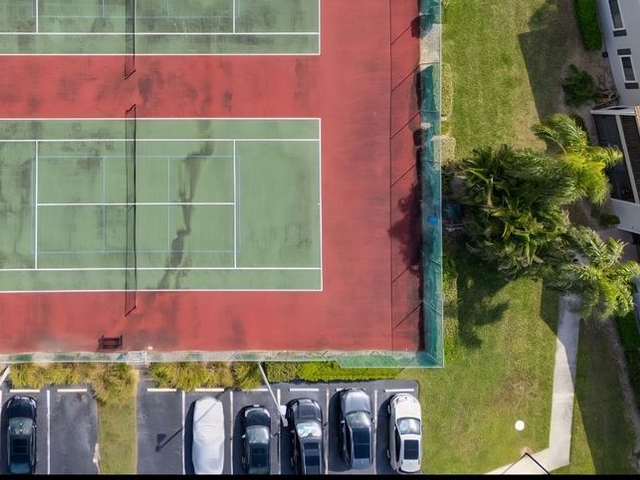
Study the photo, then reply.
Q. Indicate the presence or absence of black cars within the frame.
Yes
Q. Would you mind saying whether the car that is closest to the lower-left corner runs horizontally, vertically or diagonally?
vertically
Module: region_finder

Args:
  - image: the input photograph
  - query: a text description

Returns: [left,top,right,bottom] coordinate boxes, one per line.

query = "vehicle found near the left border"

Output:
[1,396,37,478]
